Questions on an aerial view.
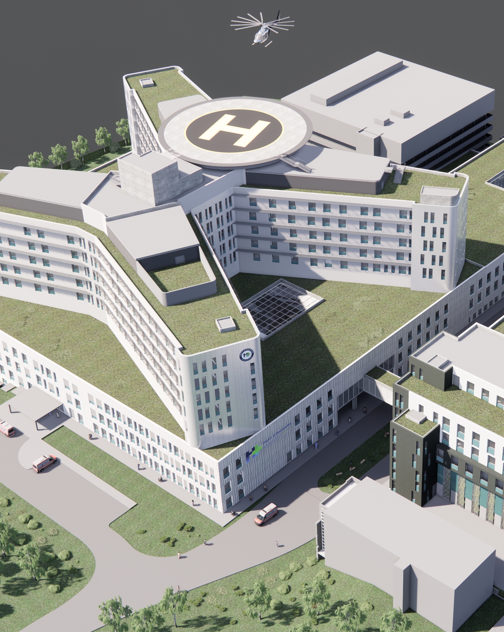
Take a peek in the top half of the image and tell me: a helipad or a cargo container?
helipad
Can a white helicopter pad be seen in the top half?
Yes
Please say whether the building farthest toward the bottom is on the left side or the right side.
right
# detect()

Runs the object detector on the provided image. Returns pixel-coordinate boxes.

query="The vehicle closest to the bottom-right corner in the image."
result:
[254,504,282,528]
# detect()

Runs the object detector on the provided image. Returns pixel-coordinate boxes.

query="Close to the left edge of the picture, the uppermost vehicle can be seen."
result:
[0,421,17,440]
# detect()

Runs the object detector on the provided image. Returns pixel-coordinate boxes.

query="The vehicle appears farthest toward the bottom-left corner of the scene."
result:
[30,457,57,477]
